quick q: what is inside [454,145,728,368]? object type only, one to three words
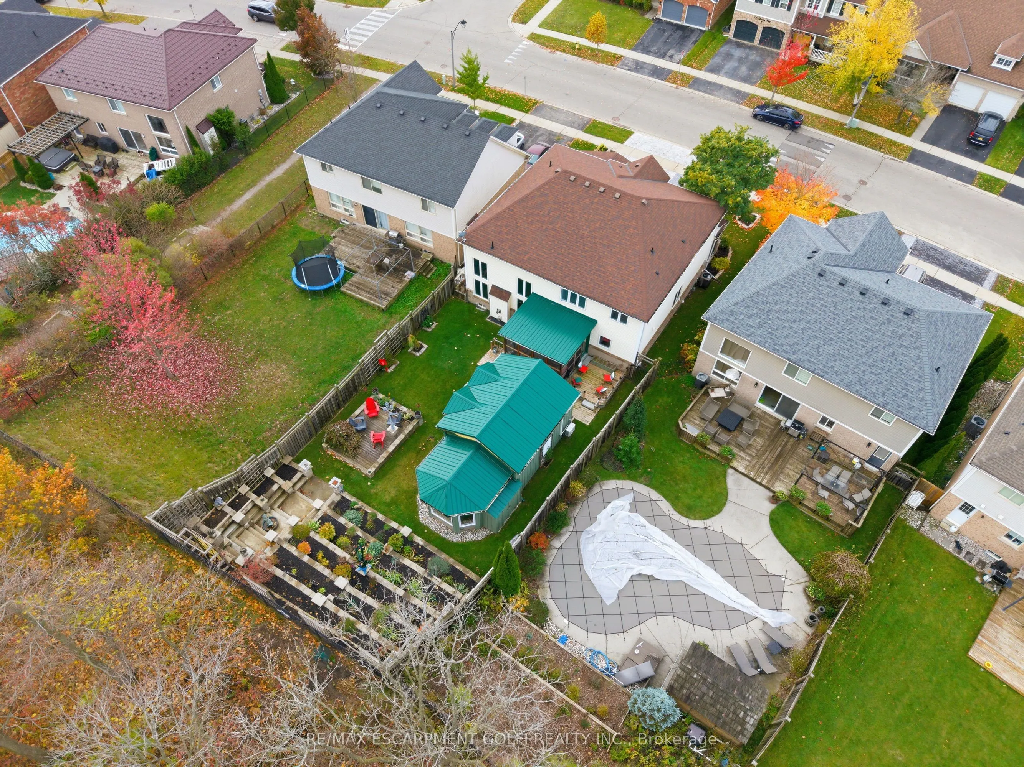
house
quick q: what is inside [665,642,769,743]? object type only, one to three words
shed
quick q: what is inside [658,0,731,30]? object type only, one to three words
house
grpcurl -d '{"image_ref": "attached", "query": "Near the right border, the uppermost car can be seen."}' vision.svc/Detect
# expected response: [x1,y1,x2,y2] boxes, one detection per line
[965,109,997,146]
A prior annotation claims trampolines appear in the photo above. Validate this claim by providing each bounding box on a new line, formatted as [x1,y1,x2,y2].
[286,237,345,300]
